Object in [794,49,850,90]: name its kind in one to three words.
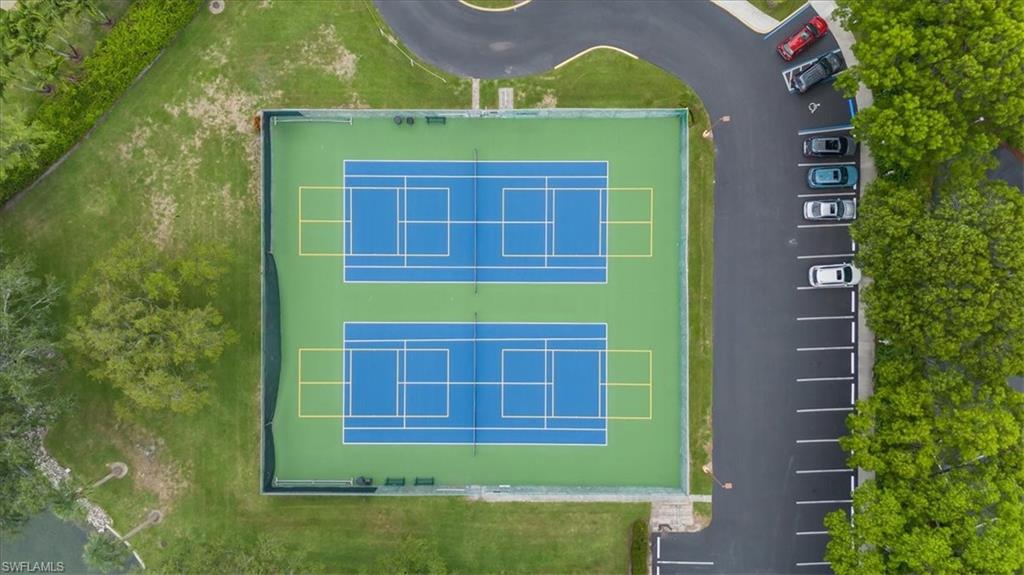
car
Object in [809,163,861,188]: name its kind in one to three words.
car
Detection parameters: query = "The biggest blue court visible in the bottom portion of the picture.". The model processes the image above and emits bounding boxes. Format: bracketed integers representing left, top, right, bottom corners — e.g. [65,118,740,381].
[342,322,608,445]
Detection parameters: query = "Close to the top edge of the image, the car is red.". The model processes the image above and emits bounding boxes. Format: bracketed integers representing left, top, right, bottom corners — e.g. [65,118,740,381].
[779,16,830,59]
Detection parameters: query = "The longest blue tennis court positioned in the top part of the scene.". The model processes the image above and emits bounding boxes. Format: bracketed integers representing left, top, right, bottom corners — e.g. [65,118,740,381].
[343,160,609,284]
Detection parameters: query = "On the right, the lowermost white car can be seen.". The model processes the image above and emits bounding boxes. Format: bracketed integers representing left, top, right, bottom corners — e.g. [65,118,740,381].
[810,262,864,287]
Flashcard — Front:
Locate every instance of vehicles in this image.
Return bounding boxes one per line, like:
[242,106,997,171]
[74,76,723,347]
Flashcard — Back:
[805,132,859,157]
[809,163,861,188]
[779,16,830,59]
[810,262,864,287]
[794,49,850,90]
[805,196,859,220]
